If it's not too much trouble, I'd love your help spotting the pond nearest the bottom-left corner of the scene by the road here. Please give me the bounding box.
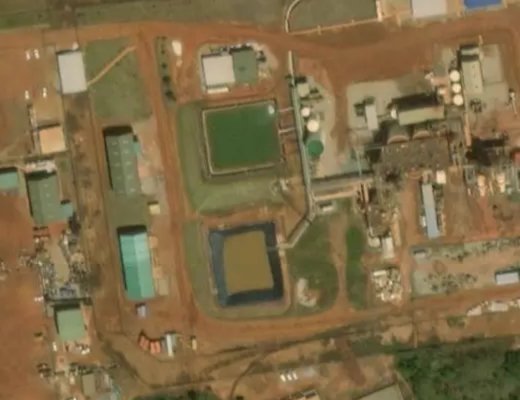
[209,221,285,307]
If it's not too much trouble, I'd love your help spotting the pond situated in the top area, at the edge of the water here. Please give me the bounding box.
[202,99,283,175]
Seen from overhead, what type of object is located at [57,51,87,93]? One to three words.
building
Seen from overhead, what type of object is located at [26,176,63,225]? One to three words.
building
